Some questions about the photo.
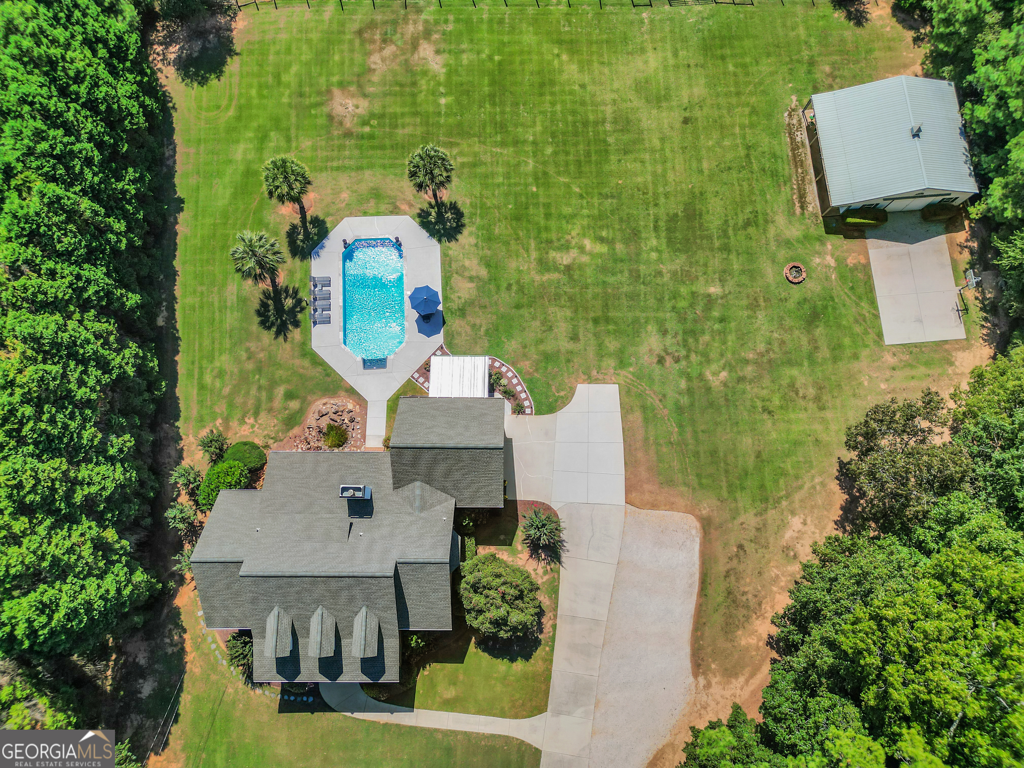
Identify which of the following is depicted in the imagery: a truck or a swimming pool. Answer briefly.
swimming pool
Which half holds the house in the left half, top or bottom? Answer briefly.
bottom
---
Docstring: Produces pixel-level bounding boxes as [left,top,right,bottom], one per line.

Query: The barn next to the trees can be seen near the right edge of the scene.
[802,75,978,216]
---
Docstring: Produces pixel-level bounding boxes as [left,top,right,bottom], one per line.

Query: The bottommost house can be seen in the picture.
[189,396,505,684]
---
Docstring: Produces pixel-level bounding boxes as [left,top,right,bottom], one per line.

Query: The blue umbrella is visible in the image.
[409,285,441,315]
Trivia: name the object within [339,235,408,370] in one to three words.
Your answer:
swimming pool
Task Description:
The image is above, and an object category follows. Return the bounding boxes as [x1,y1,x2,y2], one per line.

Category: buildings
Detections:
[189,396,505,684]
[802,75,978,216]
